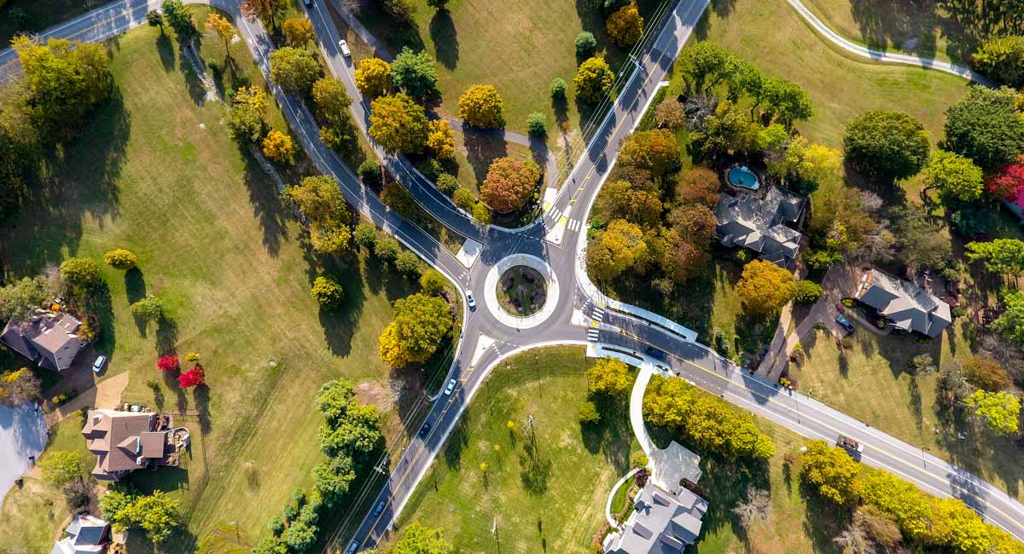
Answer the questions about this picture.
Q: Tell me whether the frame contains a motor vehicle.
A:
Yes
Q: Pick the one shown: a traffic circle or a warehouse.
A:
traffic circle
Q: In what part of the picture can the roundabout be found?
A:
center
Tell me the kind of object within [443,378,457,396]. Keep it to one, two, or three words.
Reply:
car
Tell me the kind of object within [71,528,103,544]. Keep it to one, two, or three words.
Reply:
solar panel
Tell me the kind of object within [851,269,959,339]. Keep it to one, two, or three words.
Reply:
house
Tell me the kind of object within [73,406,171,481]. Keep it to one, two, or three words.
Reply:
house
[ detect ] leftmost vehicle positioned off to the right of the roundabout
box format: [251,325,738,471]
[646,347,665,360]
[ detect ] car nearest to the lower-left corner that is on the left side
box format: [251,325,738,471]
[92,355,108,374]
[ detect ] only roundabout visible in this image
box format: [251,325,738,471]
[456,206,621,366]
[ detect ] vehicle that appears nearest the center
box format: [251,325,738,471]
[464,289,476,307]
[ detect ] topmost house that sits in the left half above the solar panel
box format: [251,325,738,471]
[0,307,92,376]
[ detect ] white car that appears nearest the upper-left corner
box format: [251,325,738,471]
[337,38,351,58]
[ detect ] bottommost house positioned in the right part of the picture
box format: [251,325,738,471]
[600,479,718,554]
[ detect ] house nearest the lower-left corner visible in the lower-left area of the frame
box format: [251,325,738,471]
[37,506,118,554]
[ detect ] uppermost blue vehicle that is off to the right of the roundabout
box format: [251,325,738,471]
[835,316,855,333]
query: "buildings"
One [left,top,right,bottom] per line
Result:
[714,182,809,271]
[37,506,118,554]
[985,171,1024,228]
[600,479,718,554]
[73,406,171,481]
[0,307,92,376]
[851,269,959,339]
